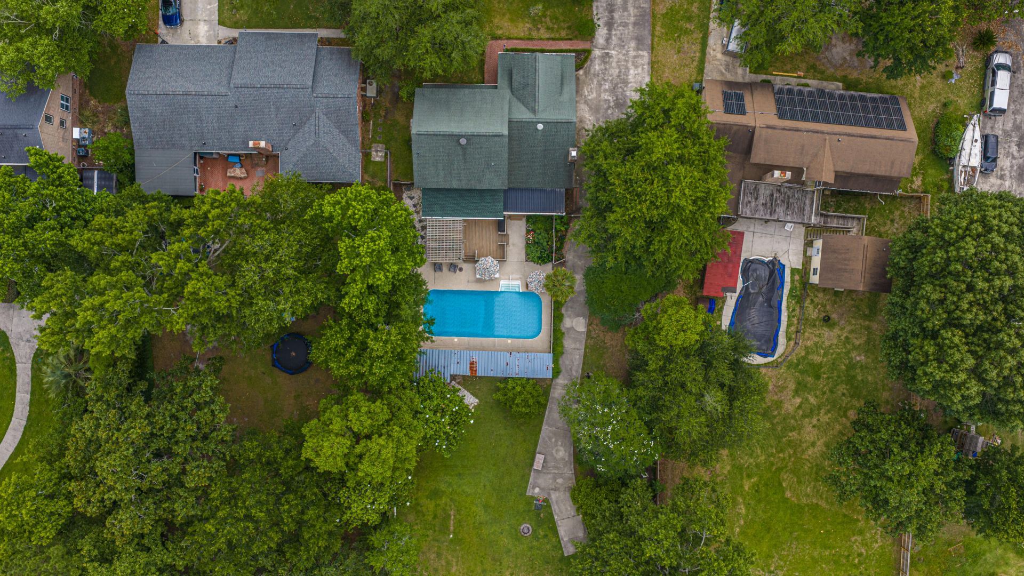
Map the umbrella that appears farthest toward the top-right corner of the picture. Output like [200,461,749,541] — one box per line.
[525,271,547,292]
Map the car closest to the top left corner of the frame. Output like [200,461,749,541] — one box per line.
[155,0,181,26]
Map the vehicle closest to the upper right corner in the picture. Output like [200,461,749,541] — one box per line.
[987,48,1021,115]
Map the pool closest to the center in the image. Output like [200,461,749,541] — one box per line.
[423,277,543,341]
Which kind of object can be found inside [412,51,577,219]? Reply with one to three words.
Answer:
house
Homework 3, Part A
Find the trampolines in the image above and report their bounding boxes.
[272,334,311,373]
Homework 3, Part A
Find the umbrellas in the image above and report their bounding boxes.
[525,271,547,292]
[475,255,500,280]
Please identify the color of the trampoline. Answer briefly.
black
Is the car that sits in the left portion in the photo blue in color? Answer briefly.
Yes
